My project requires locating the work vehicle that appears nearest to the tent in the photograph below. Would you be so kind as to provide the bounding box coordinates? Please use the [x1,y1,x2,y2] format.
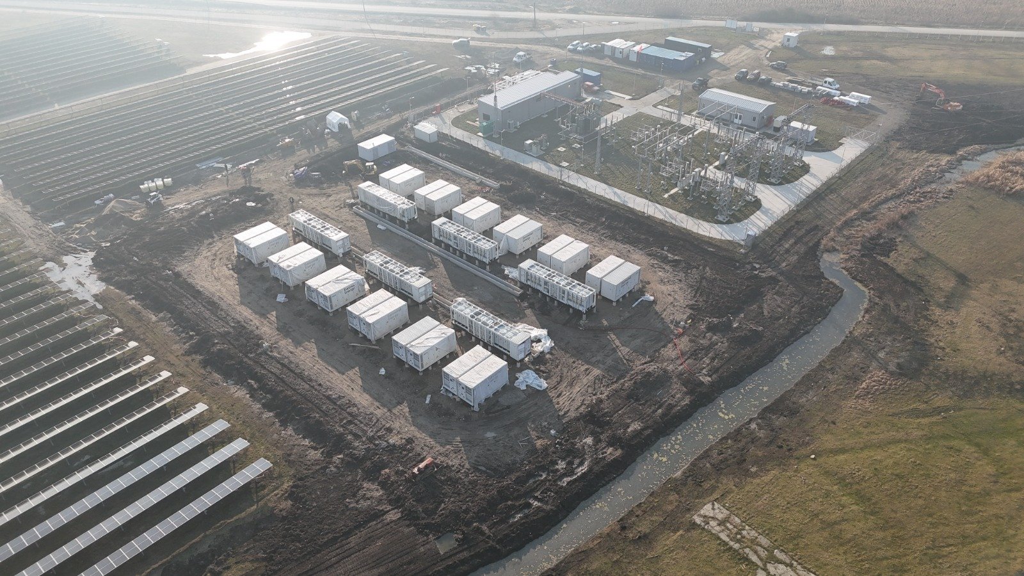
[345,156,378,177]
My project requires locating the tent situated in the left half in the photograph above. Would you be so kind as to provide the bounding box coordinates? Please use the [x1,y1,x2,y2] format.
[322,109,350,132]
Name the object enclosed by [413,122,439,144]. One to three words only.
shed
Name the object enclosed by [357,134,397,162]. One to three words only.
building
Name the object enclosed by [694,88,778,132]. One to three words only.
building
